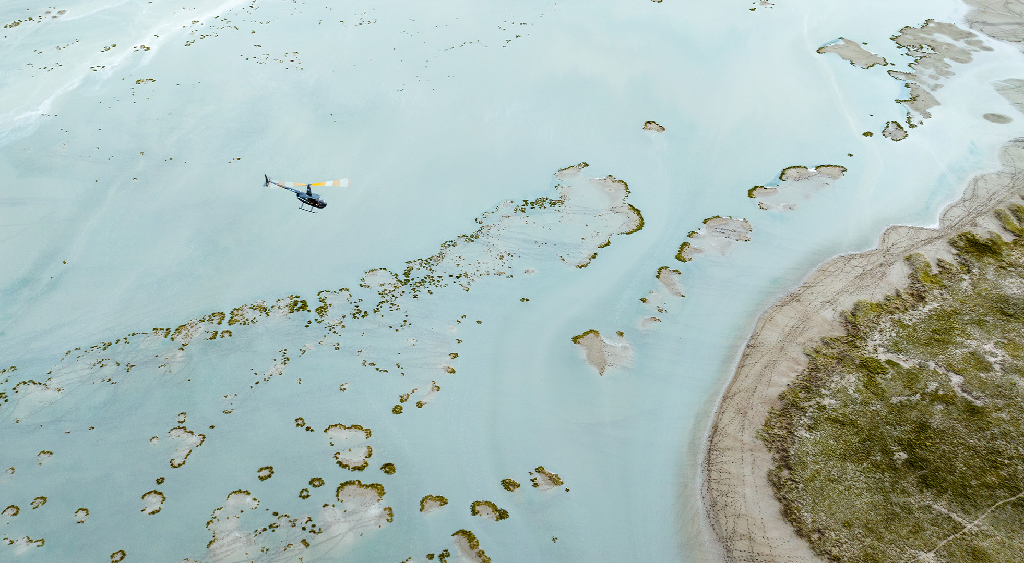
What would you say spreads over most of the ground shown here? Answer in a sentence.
What you mostly see from above here is water.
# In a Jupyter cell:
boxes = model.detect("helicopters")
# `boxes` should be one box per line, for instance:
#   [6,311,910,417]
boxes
[264,172,351,215]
